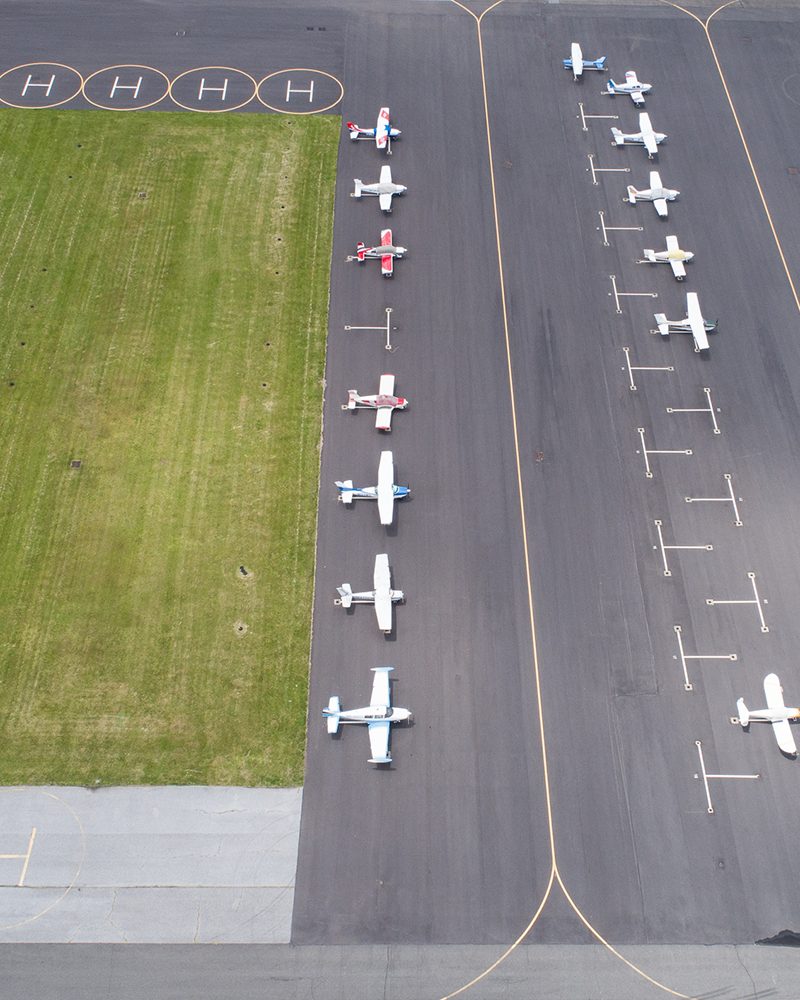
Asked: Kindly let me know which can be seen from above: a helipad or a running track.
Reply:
helipad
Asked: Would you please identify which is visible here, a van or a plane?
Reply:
plane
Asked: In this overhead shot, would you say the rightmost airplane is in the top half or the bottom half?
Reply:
bottom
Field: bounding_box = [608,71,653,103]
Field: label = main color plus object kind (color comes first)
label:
white airplane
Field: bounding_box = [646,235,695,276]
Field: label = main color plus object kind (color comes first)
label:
white airplane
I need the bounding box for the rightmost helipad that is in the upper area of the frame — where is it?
[257,68,344,113]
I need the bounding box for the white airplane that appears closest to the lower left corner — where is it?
[322,668,410,763]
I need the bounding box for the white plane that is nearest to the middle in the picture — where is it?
[337,451,410,523]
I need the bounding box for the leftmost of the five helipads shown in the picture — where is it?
[0,63,84,108]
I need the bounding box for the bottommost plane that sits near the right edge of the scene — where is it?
[734,673,800,753]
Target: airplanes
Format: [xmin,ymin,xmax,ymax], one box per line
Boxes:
[347,107,401,147]
[613,111,665,151]
[348,375,407,430]
[356,229,408,273]
[322,668,410,763]
[734,673,800,753]
[563,42,607,74]
[626,171,679,216]
[656,292,718,349]
[355,166,406,211]
[337,451,410,523]
[608,71,653,103]
[646,235,695,276]
[335,554,405,630]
